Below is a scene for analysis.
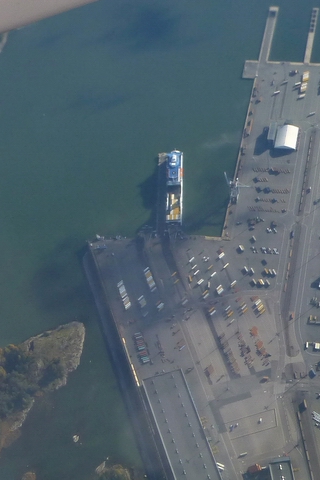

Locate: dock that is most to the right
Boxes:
[304,8,319,64]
